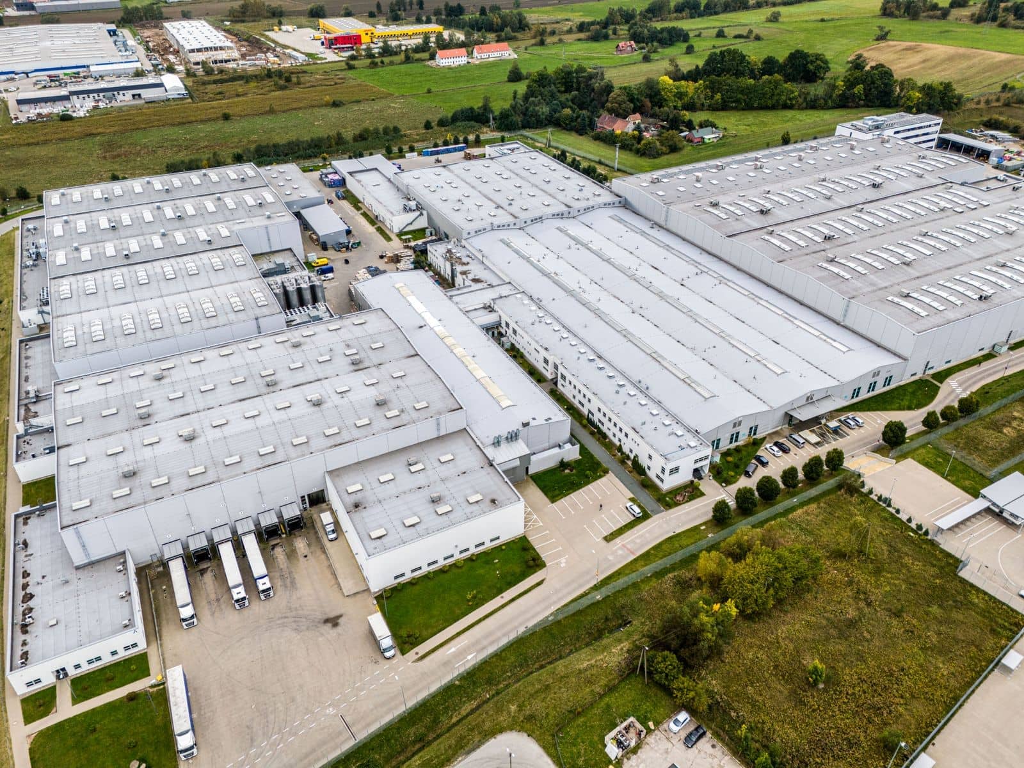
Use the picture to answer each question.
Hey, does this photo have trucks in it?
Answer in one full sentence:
Yes, a truck can be made out from above.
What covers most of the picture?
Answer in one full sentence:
Most of the picture is covered by buildings.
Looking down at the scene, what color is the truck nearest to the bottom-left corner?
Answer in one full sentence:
From above, the truck nearest to the bottom-left corner appears white.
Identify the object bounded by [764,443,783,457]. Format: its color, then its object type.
white car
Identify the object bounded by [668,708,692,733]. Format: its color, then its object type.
white car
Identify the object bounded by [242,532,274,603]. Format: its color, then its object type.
white truck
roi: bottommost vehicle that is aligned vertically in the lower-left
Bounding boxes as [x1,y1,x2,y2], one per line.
[165,662,200,764]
